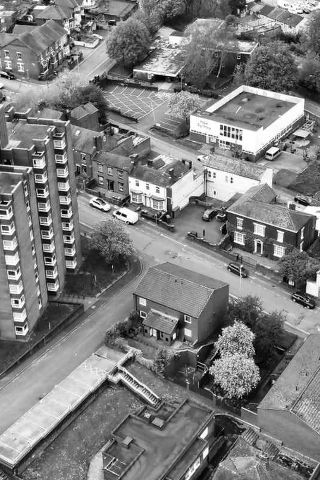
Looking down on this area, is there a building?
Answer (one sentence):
Yes, you can see a building in this photo.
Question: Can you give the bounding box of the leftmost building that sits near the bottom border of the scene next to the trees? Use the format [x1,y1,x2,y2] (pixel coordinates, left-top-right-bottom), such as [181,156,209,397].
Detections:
[103,400,215,480]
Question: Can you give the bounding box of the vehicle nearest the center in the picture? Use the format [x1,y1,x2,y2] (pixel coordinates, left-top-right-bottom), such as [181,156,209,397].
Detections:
[114,209,138,224]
